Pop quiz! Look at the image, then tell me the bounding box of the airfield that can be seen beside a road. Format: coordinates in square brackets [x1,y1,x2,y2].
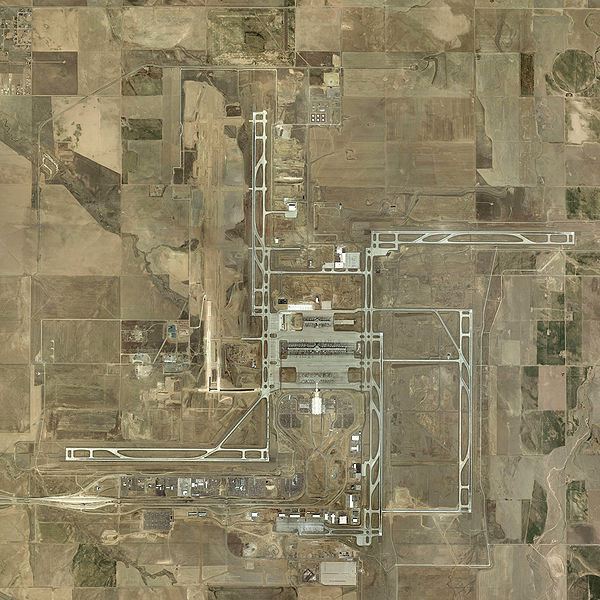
[65,111,575,546]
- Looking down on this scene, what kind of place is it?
farmland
